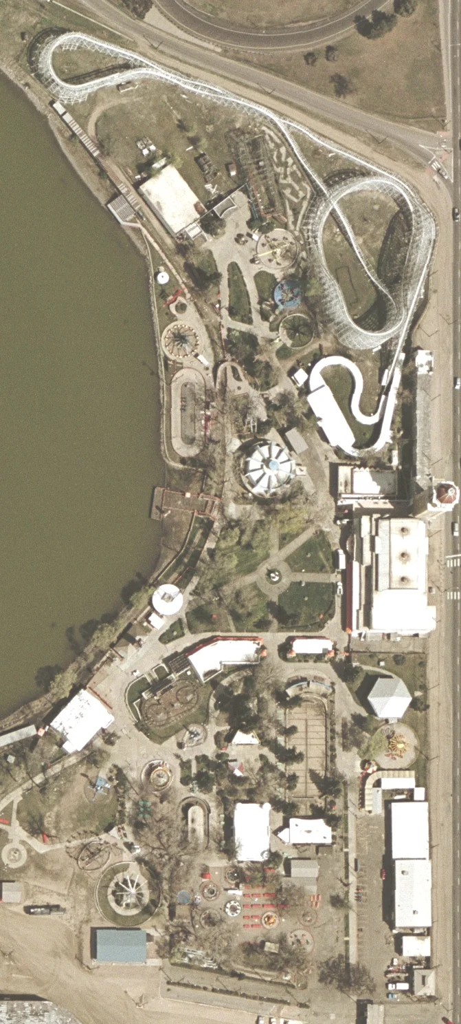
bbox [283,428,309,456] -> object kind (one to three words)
building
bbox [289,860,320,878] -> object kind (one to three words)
shed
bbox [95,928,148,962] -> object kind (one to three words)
shed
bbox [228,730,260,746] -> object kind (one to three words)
building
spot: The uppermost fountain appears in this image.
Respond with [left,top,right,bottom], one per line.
[267,568,284,585]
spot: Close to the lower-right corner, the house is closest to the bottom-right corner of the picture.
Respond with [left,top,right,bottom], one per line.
[412,969,436,996]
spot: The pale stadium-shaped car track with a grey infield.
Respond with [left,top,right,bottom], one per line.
[171,368,207,457]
